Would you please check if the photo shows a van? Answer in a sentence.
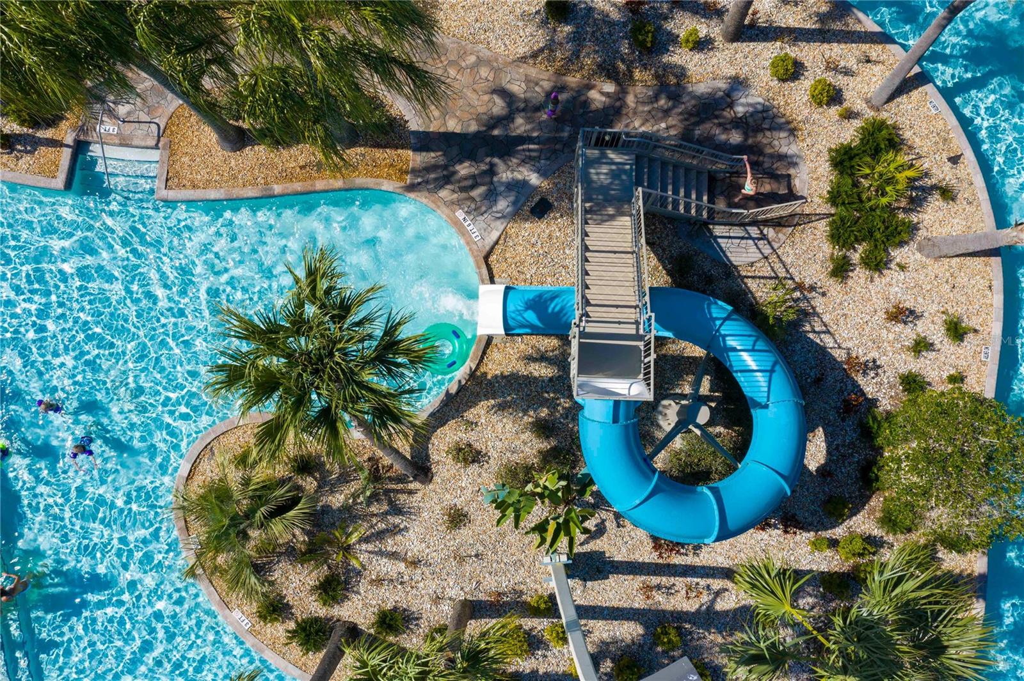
No, there isn't any van down there.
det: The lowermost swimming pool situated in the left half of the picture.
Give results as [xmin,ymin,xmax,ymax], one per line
[0,144,480,681]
